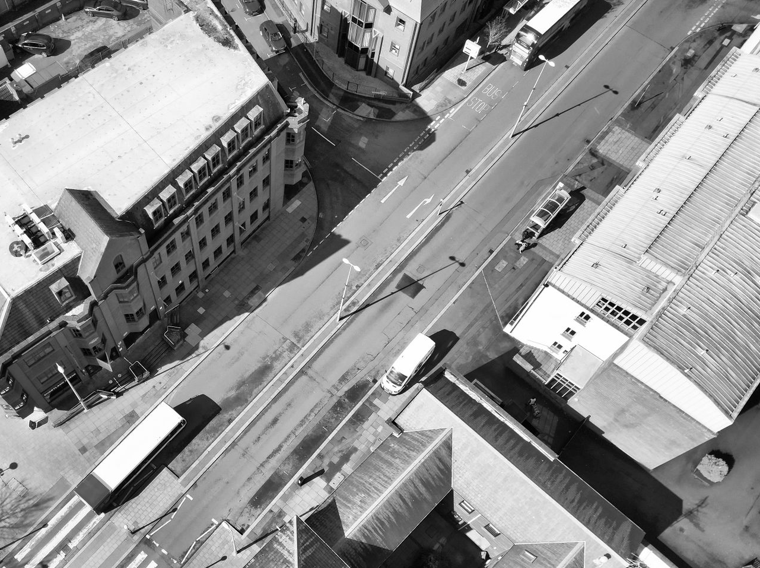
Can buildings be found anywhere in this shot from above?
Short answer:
Yes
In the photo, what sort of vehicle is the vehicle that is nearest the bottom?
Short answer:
bus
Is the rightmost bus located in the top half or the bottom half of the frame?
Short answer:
top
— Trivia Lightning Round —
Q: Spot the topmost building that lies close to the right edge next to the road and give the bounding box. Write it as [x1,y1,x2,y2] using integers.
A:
[510,8,760,462]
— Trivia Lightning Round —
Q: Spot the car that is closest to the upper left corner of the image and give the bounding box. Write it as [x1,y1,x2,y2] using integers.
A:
[12,32,56,55]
